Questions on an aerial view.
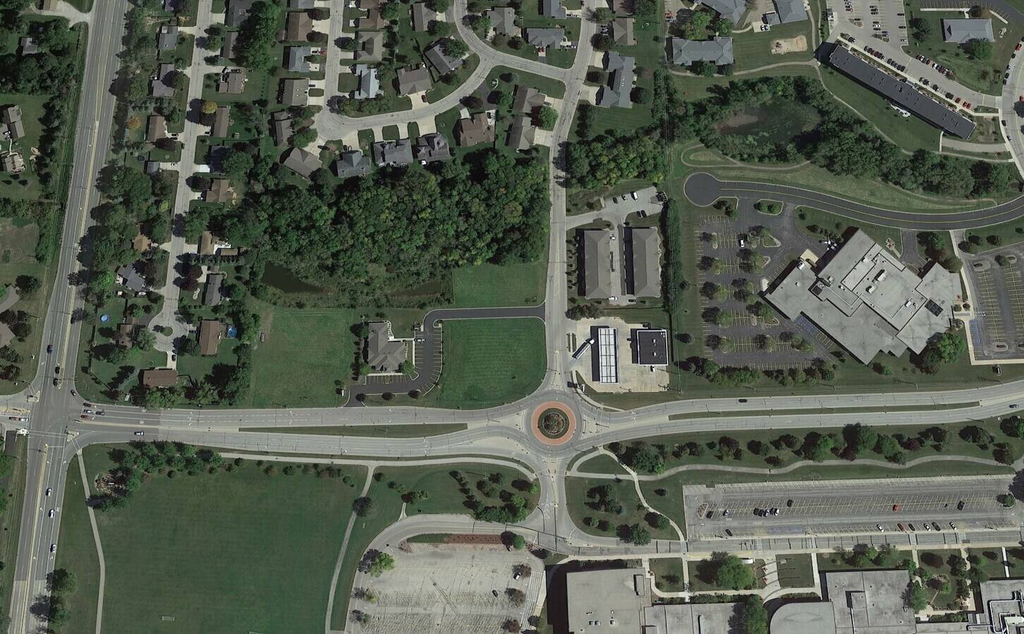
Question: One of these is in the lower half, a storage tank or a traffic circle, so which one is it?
traffic circle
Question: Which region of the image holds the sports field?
bottom left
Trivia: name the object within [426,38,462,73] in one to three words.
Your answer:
house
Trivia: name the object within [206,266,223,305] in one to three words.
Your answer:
house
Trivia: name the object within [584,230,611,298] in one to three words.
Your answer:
building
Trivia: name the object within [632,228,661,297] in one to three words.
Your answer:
building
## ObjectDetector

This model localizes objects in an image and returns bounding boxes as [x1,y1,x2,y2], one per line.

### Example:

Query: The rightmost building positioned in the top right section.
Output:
[942,17,994,43]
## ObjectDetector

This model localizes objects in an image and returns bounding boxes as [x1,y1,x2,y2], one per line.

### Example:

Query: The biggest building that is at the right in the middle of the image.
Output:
[764,228,962,365]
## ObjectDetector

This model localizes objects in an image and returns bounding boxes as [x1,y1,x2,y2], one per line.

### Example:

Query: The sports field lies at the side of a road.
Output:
[89,464,361,634]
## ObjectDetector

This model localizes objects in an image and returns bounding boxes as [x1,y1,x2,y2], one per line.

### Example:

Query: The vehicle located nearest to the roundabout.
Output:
[573,339,595,357]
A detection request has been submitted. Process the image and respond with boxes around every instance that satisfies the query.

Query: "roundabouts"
[521,390,587,457]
